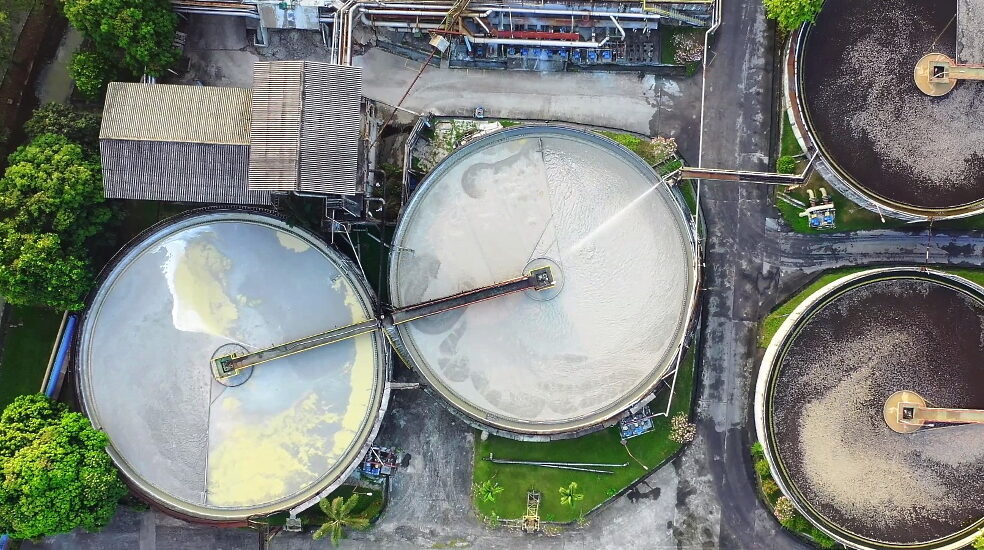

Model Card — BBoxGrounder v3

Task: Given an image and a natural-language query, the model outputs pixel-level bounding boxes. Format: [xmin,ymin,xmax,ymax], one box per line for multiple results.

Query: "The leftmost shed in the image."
[99,82,273,205]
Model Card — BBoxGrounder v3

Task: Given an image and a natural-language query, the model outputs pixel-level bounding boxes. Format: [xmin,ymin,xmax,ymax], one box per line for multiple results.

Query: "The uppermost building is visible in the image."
[254,0,325,52]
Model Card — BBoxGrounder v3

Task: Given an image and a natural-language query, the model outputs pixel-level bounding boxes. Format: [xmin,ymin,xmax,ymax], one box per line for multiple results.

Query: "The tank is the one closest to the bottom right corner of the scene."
[755,266,984,550]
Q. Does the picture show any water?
Yes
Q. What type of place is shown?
industrial area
